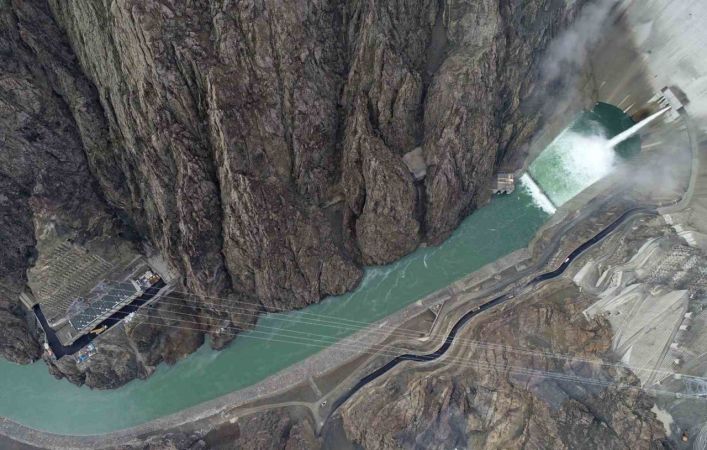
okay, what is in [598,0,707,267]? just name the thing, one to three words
dam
